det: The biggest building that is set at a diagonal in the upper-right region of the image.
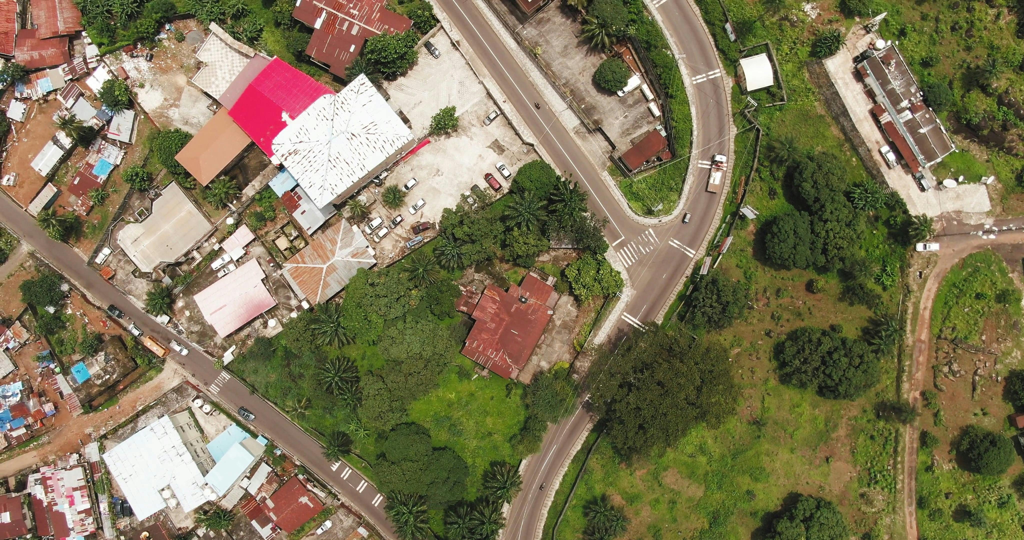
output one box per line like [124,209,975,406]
[855,45,955,173]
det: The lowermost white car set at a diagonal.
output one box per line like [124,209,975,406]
[314,518,334,536]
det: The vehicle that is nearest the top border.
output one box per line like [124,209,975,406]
[423,41,442,60]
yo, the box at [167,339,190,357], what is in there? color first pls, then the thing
white vehicle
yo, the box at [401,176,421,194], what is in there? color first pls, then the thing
white car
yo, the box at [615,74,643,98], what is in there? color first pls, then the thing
white truck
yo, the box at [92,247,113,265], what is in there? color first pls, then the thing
white car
